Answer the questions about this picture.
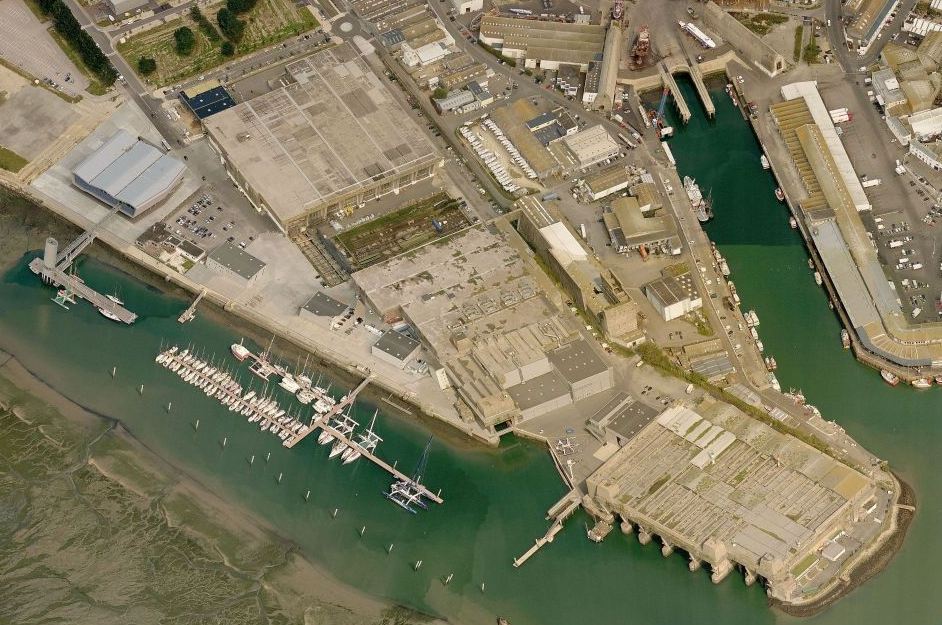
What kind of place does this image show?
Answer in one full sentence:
The area seen from above is a port.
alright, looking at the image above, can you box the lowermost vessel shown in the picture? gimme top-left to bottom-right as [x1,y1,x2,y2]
[587,523,614,542]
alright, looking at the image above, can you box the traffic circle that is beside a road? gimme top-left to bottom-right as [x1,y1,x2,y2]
[324,15,363,41]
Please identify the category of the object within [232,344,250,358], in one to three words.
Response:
boat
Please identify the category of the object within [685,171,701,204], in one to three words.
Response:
ship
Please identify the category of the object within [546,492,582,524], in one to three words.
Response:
pier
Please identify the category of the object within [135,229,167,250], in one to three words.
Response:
house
